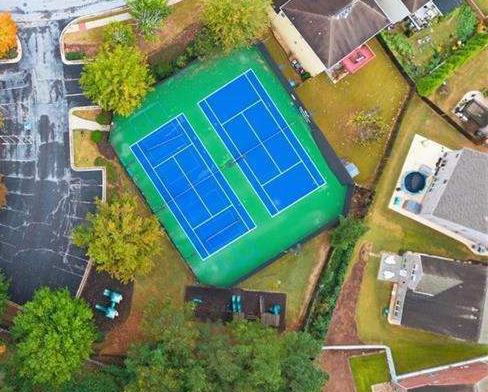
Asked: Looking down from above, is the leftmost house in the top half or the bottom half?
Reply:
top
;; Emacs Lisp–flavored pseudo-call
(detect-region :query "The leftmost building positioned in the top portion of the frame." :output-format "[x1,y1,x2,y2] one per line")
[266,0,391,73]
